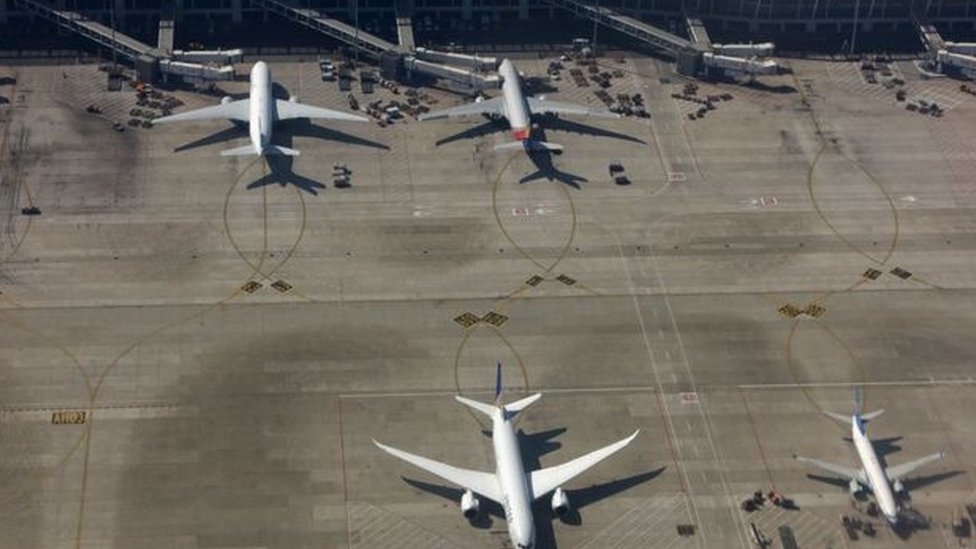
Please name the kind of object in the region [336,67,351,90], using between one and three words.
work vehicle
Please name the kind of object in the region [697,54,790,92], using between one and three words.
jet bridge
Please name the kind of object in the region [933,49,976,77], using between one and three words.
jet bridge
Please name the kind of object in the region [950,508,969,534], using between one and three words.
vehicle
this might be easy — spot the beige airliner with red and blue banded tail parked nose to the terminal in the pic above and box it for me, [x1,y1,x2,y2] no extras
[415,60,622,152]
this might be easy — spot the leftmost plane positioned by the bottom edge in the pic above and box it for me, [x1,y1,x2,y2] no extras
[375,357,640,549]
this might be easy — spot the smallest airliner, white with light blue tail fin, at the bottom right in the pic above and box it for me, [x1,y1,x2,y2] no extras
[789,386,945,524]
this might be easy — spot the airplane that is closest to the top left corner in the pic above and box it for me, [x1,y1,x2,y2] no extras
[152,60,369,157]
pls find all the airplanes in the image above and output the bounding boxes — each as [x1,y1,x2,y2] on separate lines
[375,357,640,549]
[415,60,622,152]
[789,386,945,524]
[152,60,369,157]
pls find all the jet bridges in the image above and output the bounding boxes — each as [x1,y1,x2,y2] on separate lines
[155,61,243,97]
[411,46,504,75]
[709,39,783,71]
[933,49,976,77]
[697,54,790,92]
[402,57,509,100]
[170,44,250,68]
